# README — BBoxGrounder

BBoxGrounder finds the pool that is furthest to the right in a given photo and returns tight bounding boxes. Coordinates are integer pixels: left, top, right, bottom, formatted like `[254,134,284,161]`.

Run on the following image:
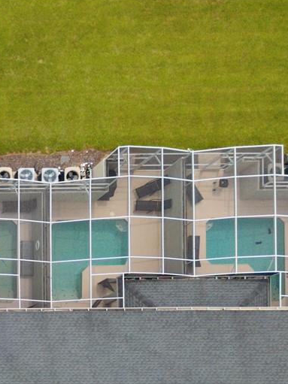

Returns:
[207,220,282,303]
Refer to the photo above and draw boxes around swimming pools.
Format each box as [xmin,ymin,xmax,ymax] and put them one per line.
[52,211,127,299]
[0,221,15,302]
[207,220,282,303]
